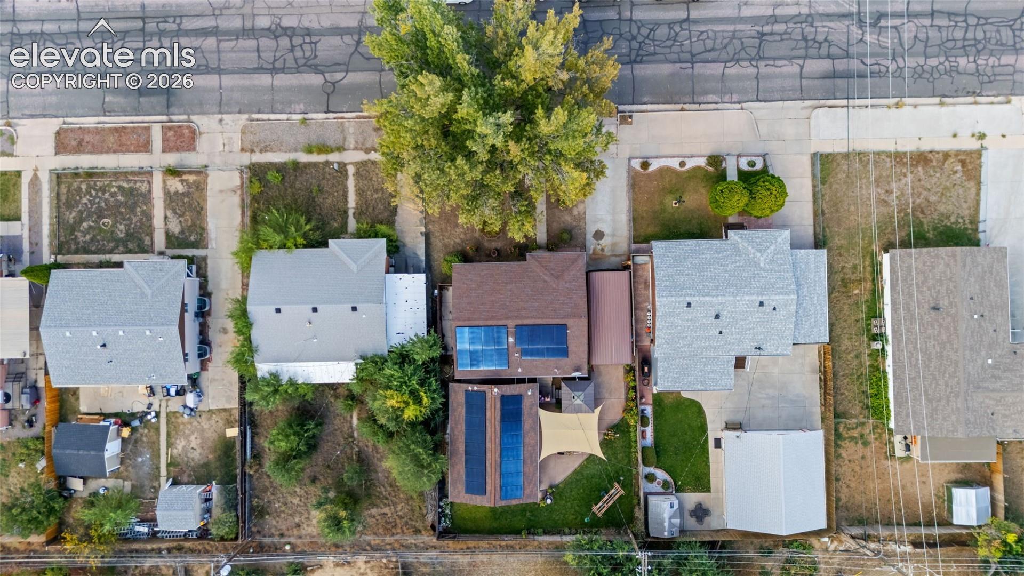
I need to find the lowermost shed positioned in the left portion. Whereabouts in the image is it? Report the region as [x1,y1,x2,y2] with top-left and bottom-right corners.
[157,477,209,531]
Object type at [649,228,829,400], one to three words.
house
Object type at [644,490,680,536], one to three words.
shed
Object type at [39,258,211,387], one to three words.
house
